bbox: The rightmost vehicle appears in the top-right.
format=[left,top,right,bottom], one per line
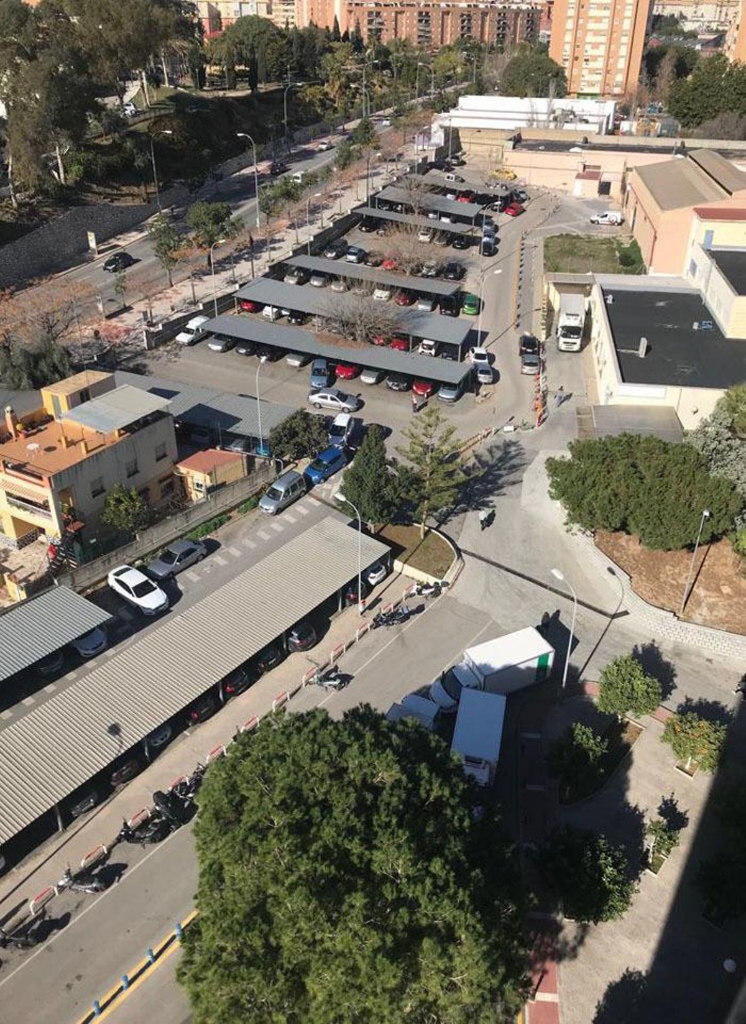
[588,207,626,225]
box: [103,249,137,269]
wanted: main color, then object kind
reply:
black car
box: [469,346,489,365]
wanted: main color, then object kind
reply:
white car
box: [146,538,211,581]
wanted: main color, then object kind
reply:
gray car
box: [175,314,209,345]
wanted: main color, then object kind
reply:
white van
